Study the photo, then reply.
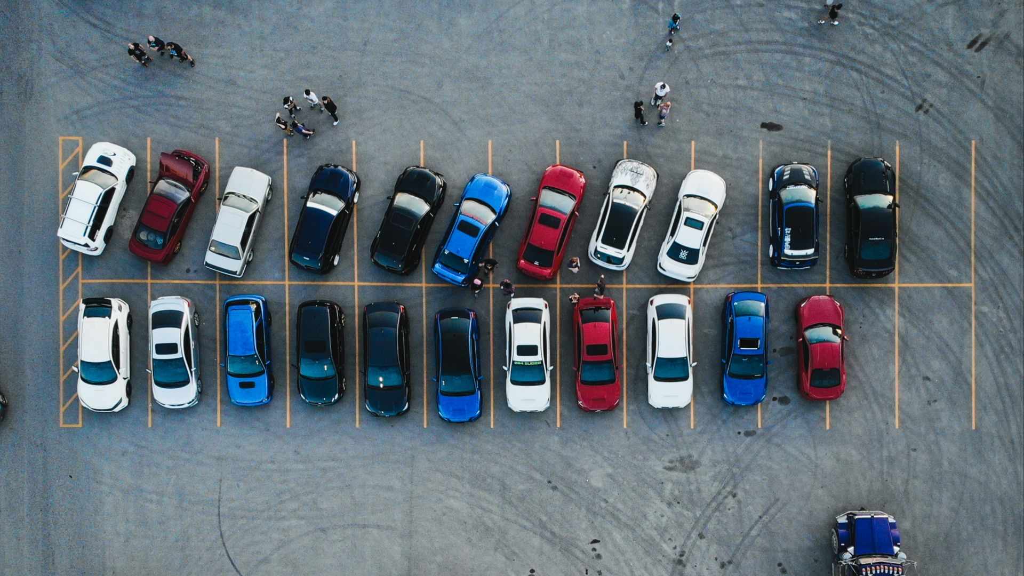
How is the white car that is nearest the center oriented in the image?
vertically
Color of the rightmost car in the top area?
black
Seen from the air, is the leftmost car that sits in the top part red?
No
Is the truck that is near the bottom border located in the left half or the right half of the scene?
right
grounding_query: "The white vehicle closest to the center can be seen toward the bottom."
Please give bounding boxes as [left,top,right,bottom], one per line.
[500,297,556,412]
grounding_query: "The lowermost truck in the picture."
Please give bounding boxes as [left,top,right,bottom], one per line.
[830,508,926,576]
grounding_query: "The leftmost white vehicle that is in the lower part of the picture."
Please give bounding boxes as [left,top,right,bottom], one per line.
[73,296,134,411]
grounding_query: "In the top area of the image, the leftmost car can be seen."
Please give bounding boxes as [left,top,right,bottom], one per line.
[52,140,136,253]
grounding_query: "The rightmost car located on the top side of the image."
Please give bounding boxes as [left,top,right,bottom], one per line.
[844,157,905,278]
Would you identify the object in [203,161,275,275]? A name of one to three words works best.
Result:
car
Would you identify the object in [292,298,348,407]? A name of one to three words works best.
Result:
car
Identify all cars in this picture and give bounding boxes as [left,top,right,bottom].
[588,159,657,269]
[288,167,359,275]
[720,289,775,406]
[654,168,726,284]
[369,167,443,277]
[292,298,348,407]
[570,296,626,411]
[52,140,136,253]
[844,157,905,278]
[203,161,275,275]
[143,293,203,410]
[513,164,584,280]
[0,387,8,417]
[73,296,134,411]
[769,161,826,272]
[357,301,413,418]
[130,154,208,263]
[219,294,275,406]
[431,173,509,286]
[430,307,485,424]
[795,294,852,401]
[644,293,699,409]
[500,297,556,412]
